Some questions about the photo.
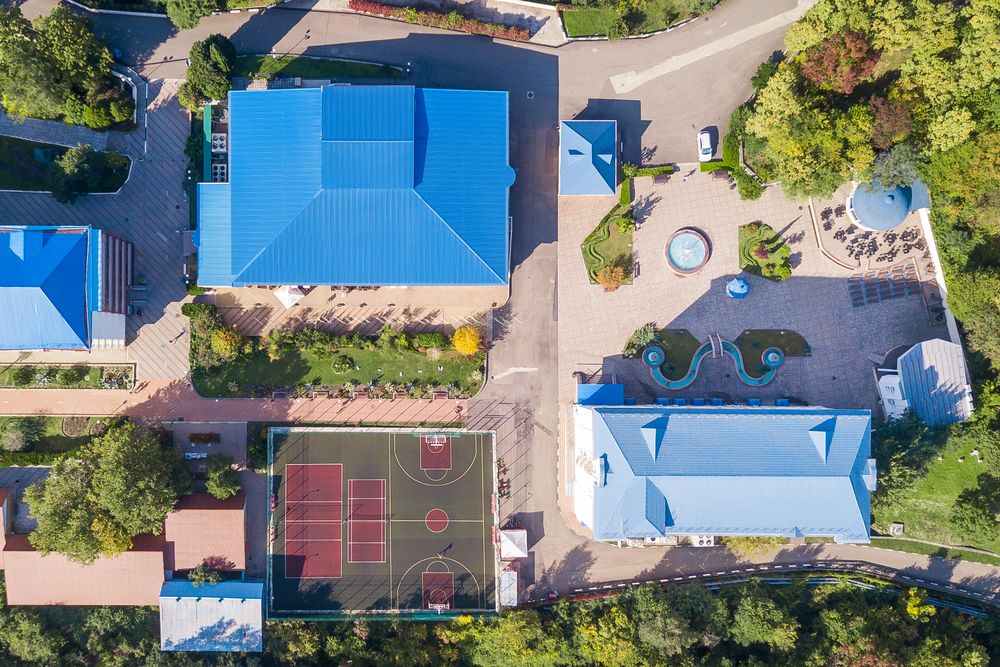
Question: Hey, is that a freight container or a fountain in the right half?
fountain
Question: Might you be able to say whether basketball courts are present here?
Yes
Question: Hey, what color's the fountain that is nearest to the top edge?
white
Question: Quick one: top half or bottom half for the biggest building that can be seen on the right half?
bottom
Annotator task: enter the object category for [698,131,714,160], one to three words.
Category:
car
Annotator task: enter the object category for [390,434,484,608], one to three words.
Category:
basketball court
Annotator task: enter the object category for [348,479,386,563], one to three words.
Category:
sports court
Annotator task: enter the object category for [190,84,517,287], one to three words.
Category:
building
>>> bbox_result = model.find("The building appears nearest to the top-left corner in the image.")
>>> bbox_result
[0,226,133,362]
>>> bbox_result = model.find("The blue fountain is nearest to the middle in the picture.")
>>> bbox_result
[642,346,665,368]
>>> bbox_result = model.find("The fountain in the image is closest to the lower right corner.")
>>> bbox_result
[762,347,785,369]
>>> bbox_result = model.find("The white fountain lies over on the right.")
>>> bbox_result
[664,226,714,275]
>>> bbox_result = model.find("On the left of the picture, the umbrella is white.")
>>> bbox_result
[273,287,305,309]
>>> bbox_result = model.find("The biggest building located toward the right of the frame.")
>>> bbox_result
[573,370,875,545]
